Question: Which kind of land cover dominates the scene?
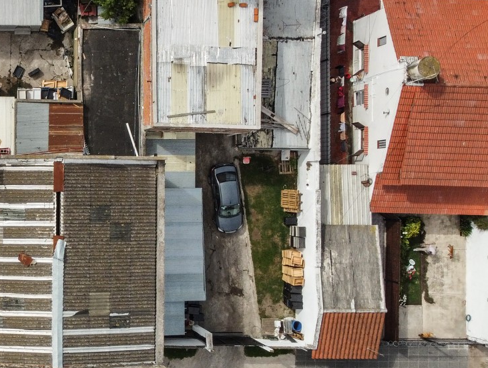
buildings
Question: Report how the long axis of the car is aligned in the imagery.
up and down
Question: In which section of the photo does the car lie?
center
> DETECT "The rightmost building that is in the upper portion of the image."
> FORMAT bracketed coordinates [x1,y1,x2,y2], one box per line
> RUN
[353,0,488,214]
